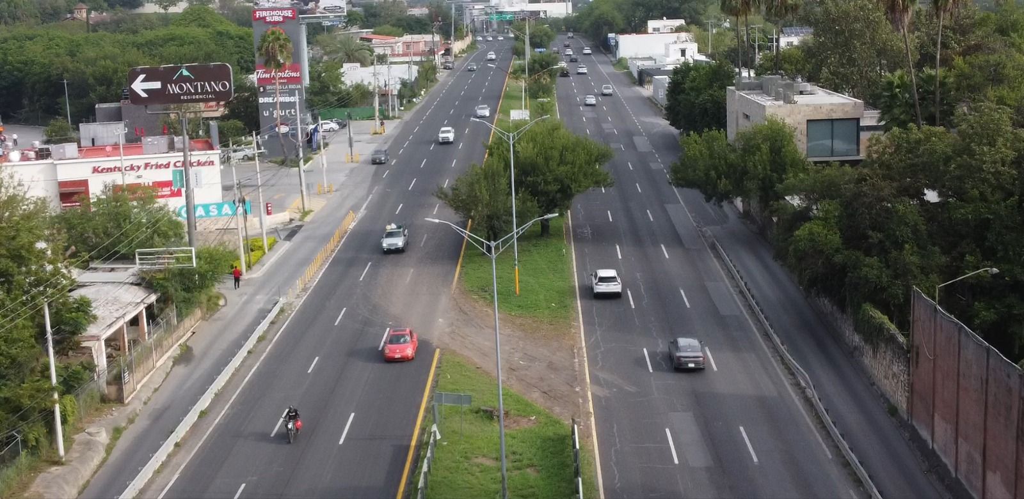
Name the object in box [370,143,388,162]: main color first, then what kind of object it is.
gray car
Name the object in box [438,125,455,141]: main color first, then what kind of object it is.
white car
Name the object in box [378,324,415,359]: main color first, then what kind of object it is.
red car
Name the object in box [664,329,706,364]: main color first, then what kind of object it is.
gray car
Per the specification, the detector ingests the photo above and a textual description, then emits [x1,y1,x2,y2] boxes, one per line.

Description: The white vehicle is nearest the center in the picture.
[588,262,621,292]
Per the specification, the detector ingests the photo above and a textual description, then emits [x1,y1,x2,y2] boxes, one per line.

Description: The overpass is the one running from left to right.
[419,0,572,29]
